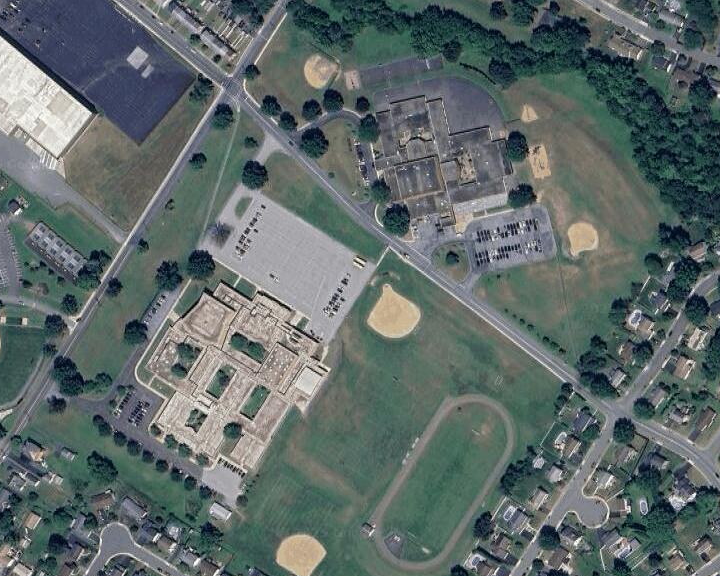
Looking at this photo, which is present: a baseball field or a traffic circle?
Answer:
baseball field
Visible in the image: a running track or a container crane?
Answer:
running track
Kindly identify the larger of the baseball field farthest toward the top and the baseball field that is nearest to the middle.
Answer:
the baseball field that is nearest to the middle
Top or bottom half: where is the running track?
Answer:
bottom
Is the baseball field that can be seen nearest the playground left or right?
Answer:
right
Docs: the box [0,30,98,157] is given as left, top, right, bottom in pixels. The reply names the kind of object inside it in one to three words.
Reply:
building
